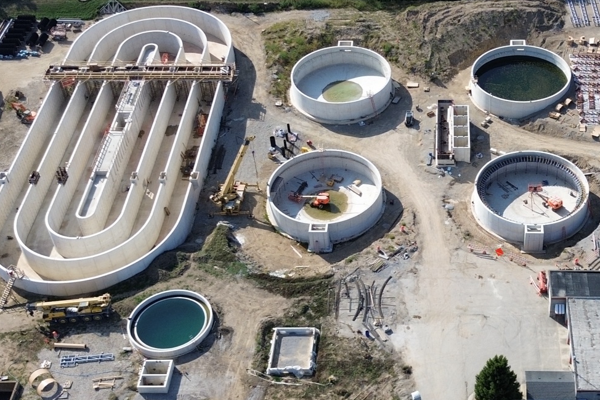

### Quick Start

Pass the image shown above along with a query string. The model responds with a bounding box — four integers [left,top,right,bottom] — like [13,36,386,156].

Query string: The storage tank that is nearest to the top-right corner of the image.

[466,42,575,125]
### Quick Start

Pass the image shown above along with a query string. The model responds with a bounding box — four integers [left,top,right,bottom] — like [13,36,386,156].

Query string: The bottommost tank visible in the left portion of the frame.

[127,289,217,361]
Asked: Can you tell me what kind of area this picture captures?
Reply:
industrial area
